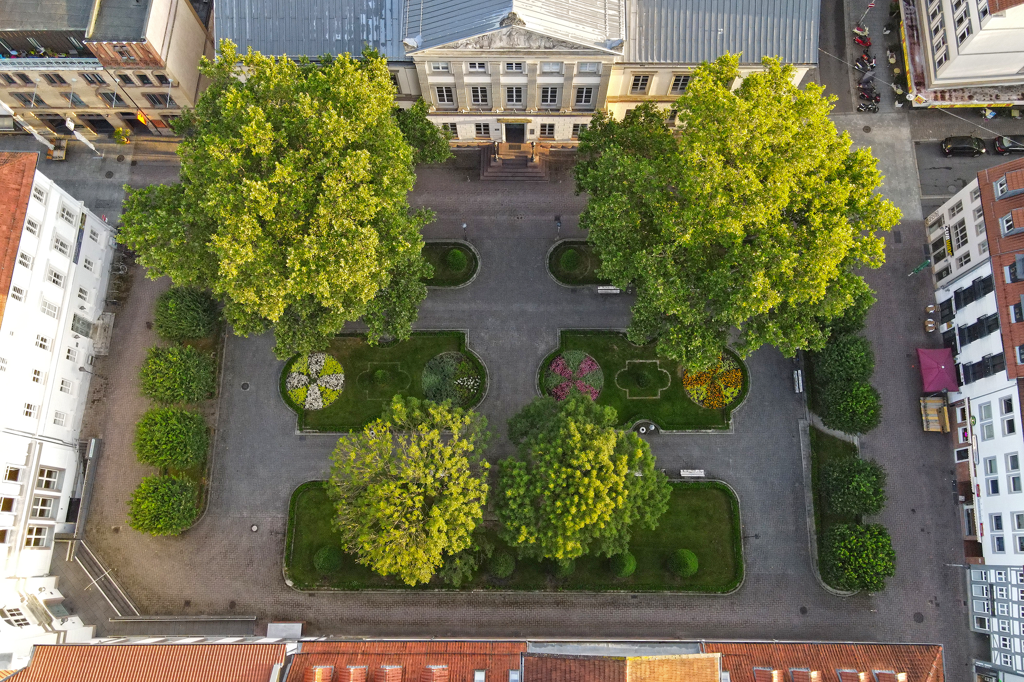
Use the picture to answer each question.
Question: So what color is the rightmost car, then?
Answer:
black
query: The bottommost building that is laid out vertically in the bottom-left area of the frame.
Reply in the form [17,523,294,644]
[0,433,94,651]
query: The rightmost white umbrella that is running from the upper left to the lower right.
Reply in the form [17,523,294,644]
[75,131,103,157]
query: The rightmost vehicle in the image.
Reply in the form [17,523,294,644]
[992,131,1024,156]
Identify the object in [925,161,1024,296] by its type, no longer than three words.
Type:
building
